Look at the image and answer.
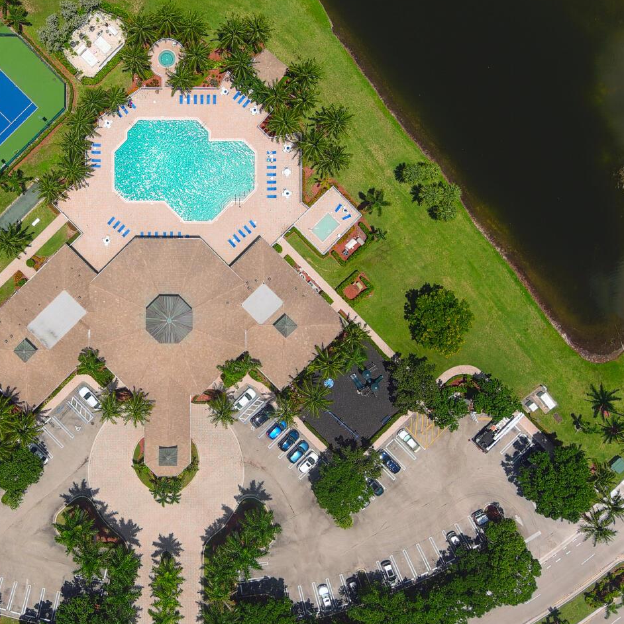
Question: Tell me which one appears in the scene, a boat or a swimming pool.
swimming pool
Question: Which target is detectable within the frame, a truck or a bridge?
truck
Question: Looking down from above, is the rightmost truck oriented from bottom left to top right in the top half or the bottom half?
bottom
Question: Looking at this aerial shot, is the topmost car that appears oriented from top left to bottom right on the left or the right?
left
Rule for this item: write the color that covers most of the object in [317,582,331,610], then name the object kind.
white vehicle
